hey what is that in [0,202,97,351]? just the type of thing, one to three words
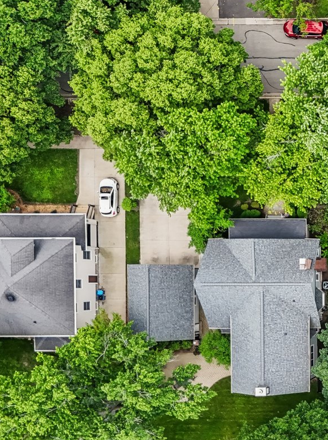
house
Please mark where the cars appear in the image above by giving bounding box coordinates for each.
[285,21,328,42]
[97,179,121,218]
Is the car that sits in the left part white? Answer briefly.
Yes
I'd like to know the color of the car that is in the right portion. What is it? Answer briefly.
red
